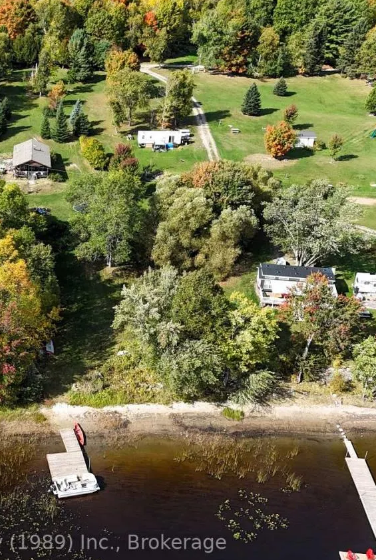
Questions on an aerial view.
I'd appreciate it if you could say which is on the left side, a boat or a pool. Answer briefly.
boat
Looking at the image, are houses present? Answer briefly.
Yes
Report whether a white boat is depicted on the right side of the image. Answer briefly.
No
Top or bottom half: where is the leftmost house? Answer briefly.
top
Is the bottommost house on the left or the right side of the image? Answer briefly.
right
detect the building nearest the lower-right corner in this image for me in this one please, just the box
[256,264,347,315]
